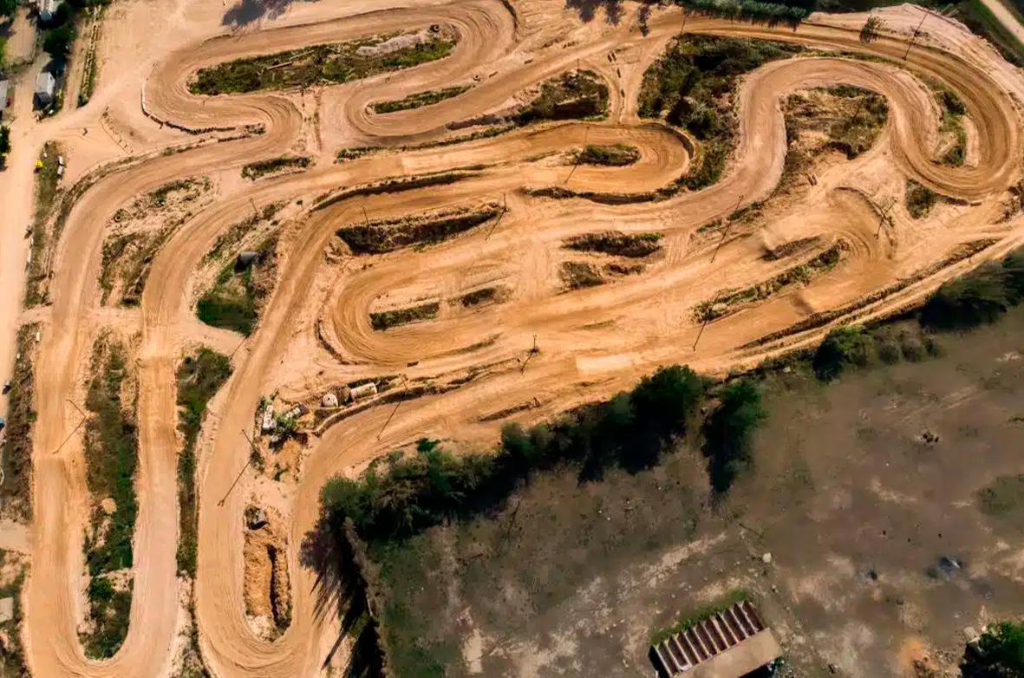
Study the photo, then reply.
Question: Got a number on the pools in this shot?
0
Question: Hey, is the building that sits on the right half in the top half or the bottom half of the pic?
bottom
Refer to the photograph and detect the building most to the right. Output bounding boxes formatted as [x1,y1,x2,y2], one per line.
[650,598,786,678]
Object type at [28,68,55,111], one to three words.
shed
